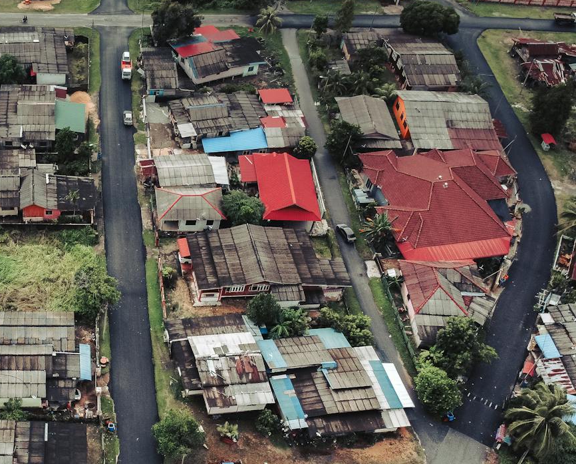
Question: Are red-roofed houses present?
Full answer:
Yes, the image includes a red-roofed house.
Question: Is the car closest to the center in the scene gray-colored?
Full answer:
Yes, the car closest to the center is gray.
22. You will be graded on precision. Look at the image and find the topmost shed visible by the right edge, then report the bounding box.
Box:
[516,38,576,85]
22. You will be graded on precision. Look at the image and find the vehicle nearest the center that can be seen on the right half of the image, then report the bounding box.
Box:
[336,220,358,243]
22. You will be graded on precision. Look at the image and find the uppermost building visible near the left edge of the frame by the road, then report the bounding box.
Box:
[0,28,69,76]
